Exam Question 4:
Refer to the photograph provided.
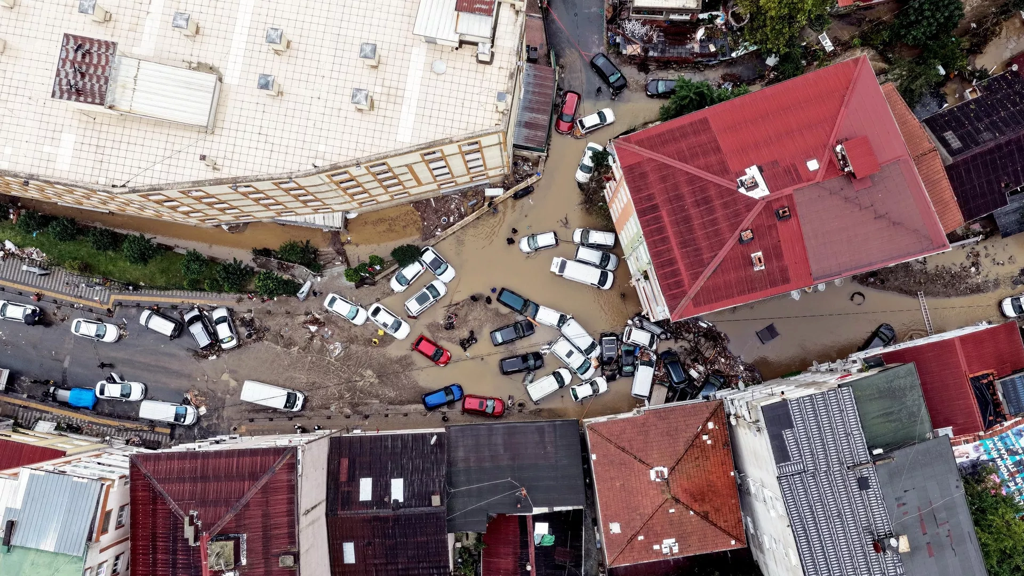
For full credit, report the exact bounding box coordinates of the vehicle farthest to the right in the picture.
[996,291,1024,317]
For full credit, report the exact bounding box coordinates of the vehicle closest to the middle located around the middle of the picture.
[496,288,537,322]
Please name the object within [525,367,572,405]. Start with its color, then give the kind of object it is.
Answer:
white van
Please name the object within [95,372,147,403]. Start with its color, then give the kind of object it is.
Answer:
white car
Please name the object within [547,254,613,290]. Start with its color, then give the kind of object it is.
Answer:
white van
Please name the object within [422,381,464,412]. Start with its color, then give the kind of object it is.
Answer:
blue car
